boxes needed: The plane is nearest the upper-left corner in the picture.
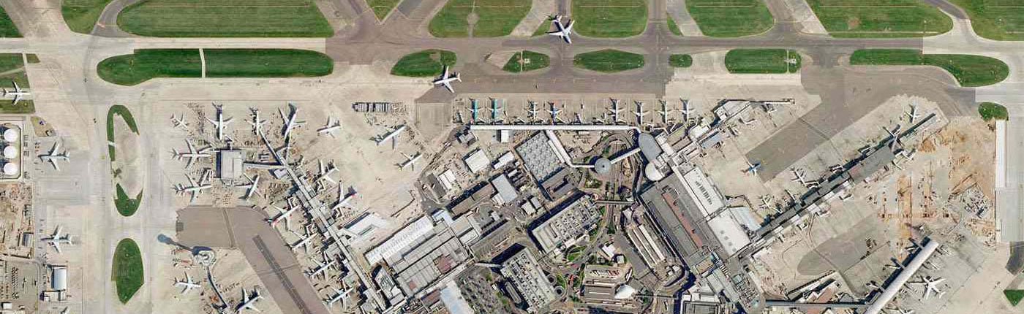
[0,81,31,105]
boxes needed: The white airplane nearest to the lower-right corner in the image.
[920,274,948,300]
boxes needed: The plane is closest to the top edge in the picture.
[550,14,576,44]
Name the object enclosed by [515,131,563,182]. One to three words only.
building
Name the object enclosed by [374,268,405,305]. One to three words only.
building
